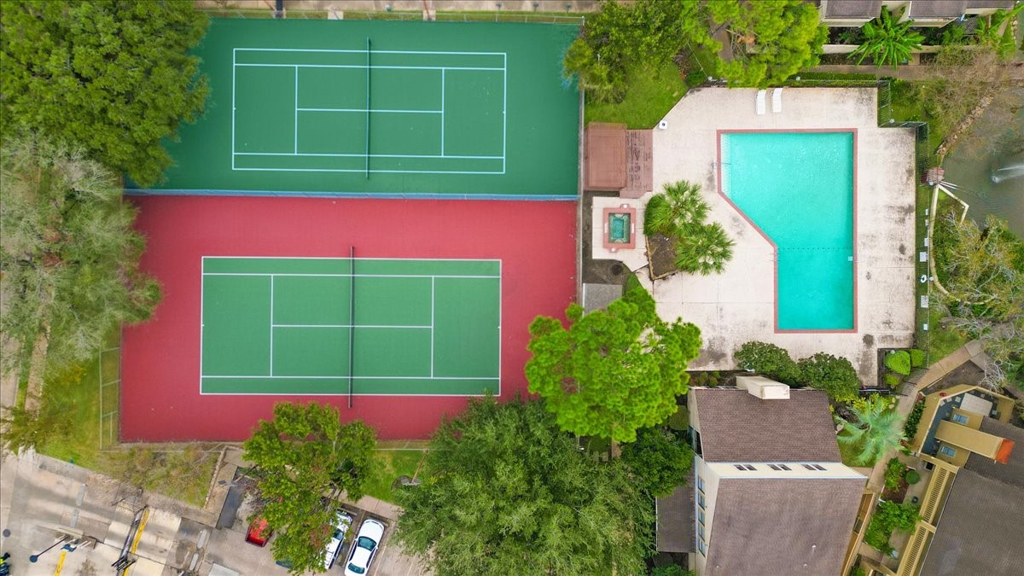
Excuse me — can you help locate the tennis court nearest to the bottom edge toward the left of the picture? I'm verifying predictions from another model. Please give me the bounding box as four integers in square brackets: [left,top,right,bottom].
[120,195,583,442]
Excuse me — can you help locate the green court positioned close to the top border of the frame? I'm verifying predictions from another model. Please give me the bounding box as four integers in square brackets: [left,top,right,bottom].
[120,16,582,196]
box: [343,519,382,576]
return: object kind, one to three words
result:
car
